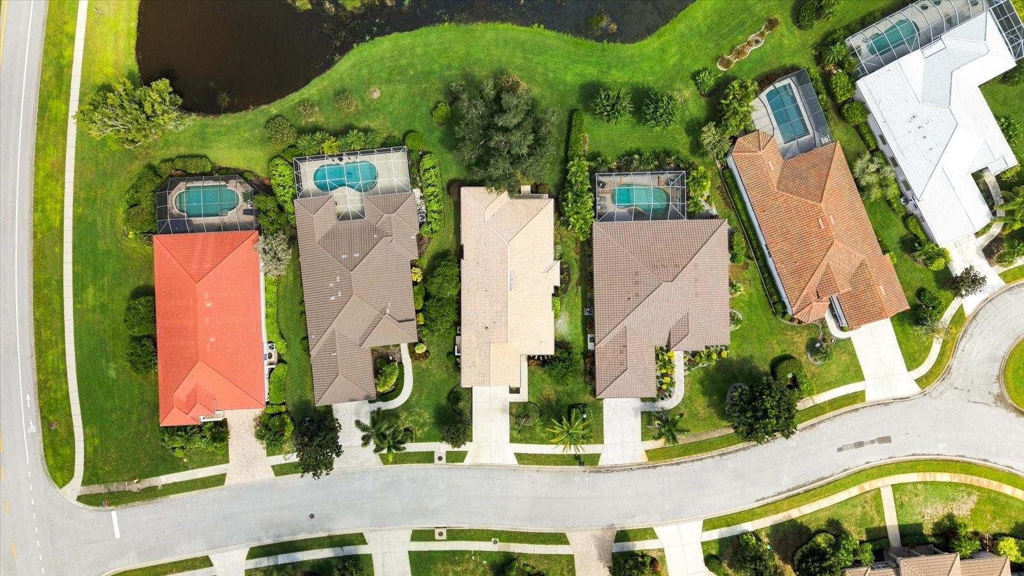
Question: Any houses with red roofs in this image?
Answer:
Yes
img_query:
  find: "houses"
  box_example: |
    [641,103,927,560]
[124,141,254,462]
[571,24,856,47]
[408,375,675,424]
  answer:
[592,218,731,399]
[294,191,420,406]
[727,129,910,331]
[153,229,270,427]
[838,544,1009,576]
[460,186,560,388]
[850,9,1018,247]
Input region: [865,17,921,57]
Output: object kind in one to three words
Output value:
swimming pool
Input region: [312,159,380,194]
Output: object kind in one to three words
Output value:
swimming pool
